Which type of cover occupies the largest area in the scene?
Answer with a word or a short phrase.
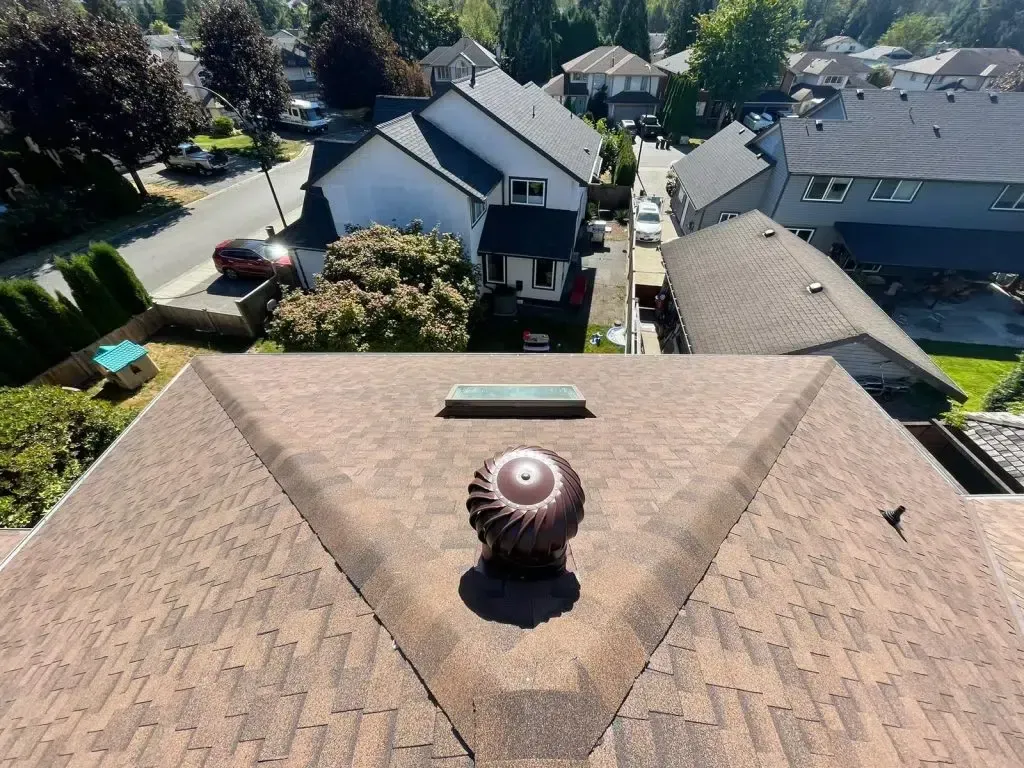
buildings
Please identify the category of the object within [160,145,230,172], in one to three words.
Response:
truck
